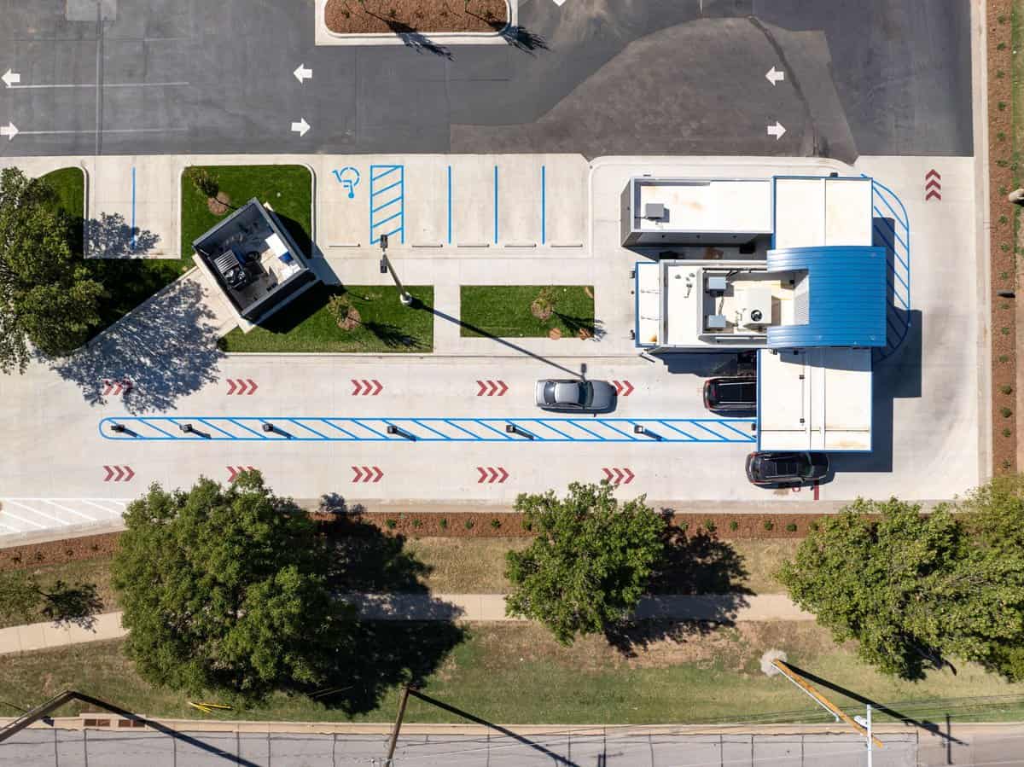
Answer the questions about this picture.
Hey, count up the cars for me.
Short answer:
three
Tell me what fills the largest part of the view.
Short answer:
paved ground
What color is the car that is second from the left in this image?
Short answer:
black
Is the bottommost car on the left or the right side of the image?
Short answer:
right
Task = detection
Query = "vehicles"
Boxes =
[533,375,613,411]
[745,451,830,486]
[704,376,755,407]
